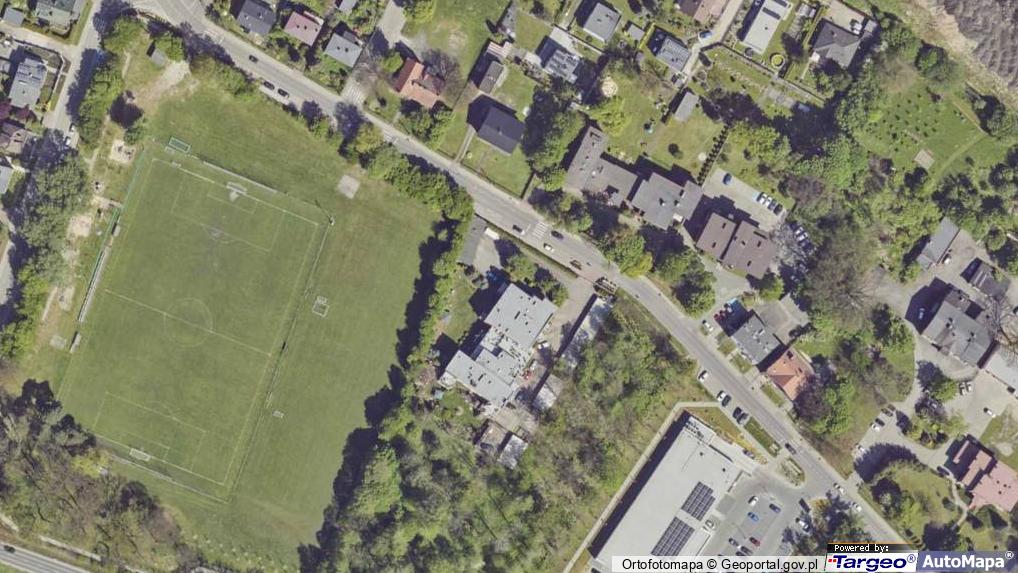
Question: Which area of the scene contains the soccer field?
left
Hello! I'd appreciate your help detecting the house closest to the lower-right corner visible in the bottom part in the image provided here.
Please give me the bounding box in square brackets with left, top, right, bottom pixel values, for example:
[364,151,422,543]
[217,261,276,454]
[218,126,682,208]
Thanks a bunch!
[949,441,1018,514]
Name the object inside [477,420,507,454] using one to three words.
shed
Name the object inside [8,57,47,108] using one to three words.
house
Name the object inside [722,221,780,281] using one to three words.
building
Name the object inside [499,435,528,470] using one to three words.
shed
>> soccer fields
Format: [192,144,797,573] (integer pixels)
[57,153,324,489]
